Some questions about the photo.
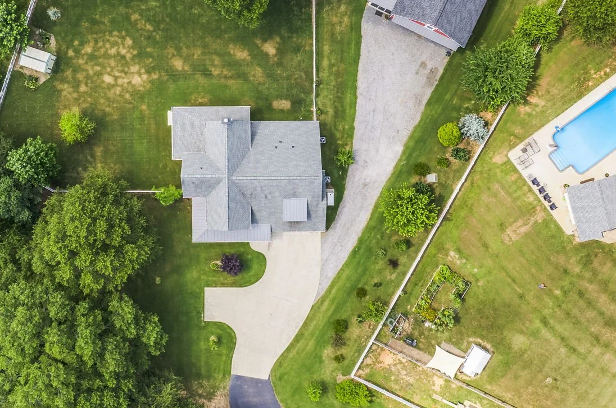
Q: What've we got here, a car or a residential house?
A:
residential house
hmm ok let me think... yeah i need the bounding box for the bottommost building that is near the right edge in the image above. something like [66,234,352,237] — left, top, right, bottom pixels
[559,175,616,242]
